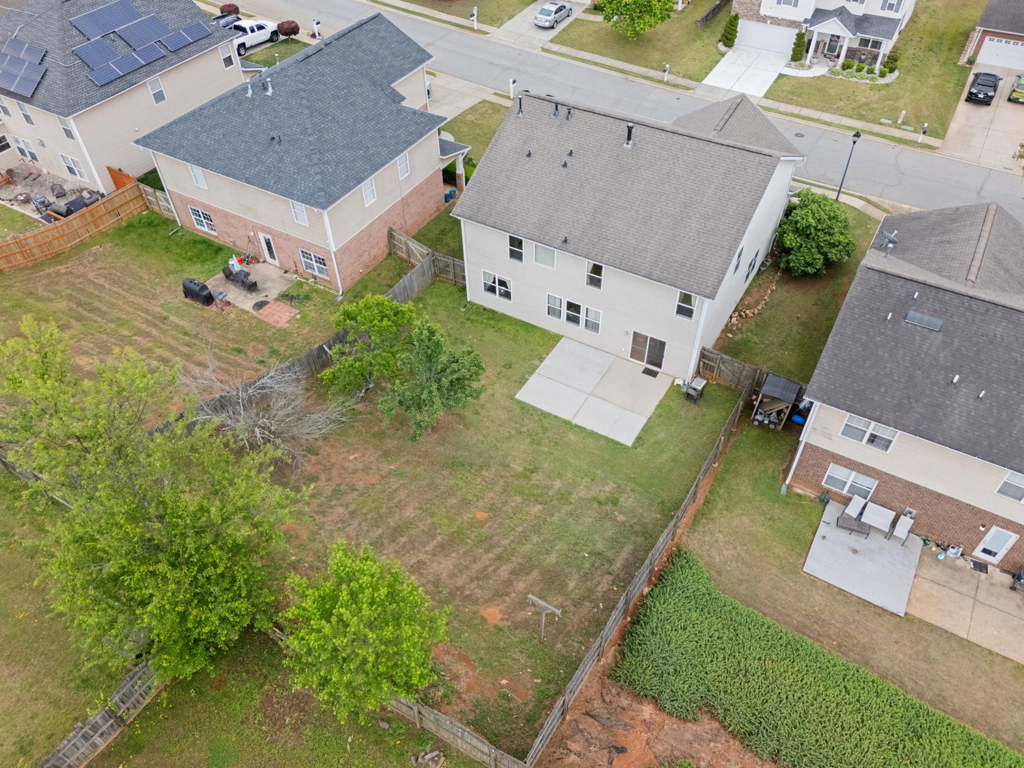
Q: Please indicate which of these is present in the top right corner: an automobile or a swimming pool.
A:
automobile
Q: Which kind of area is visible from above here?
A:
residential area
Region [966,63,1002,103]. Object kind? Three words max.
car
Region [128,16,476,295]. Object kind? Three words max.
house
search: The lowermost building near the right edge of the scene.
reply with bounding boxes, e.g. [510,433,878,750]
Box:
[782,200,1024,576]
